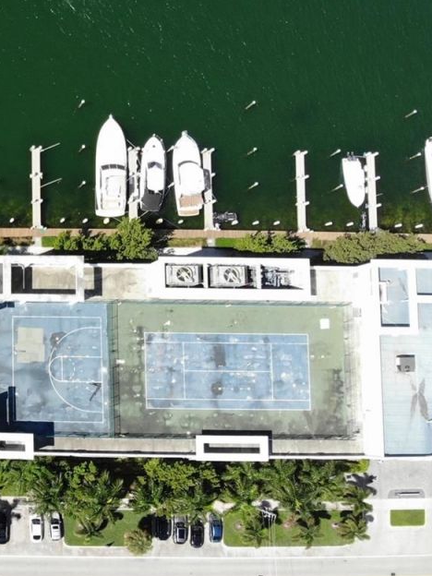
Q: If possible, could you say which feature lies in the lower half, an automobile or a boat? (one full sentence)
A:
The one visible in the lower half is an automobile.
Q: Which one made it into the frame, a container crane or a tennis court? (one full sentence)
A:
This aerial view contains a tennis court.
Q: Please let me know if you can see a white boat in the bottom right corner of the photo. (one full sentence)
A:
No, in the bottom right corner of the photo there is no white boat.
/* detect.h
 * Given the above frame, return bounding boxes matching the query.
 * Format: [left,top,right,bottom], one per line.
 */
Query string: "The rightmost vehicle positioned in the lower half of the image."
[206,510,223,544]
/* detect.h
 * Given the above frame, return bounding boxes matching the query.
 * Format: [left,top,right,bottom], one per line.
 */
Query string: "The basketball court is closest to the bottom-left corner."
[0,302,110,435]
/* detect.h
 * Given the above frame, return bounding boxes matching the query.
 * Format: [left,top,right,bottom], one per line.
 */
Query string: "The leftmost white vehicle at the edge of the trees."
[29,511,43,545]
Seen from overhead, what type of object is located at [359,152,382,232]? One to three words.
pier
